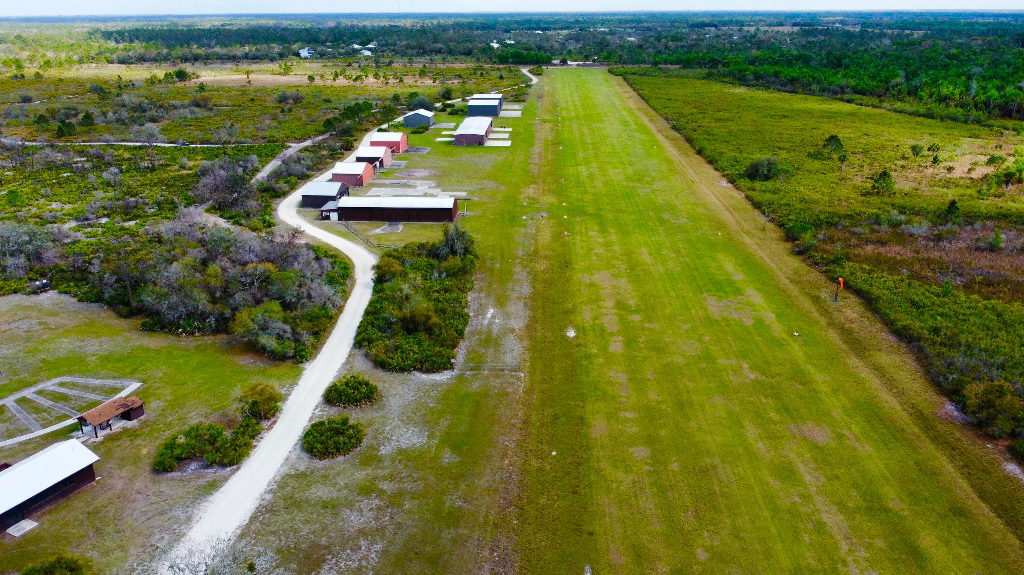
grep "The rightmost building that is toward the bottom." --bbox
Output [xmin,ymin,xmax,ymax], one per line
[77,394,145,440]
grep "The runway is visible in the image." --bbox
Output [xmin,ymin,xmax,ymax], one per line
[554,68,976,575]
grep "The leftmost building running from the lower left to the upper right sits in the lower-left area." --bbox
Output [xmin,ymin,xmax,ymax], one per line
[0,446,101,534]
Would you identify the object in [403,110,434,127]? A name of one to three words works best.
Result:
hangar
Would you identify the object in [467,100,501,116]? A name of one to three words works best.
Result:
hangar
